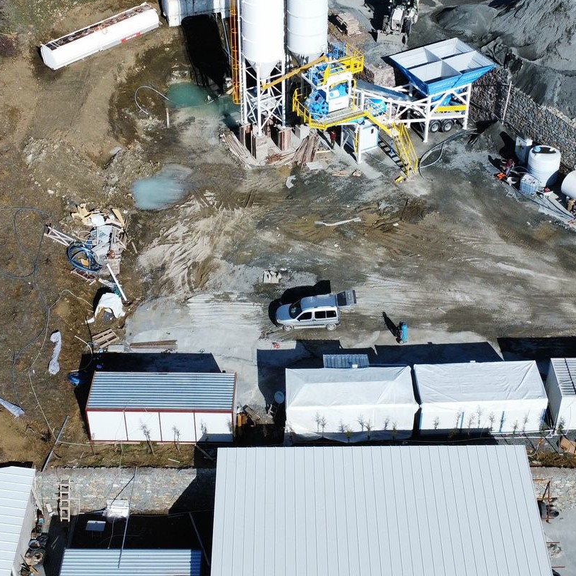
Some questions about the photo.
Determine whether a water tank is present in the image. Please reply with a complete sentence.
Yes, there is a water tank in the image.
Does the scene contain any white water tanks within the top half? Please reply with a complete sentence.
Yes, a white water tank shows up within the top half.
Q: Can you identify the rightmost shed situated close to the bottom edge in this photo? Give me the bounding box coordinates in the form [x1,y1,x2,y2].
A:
[204,434,549,576]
